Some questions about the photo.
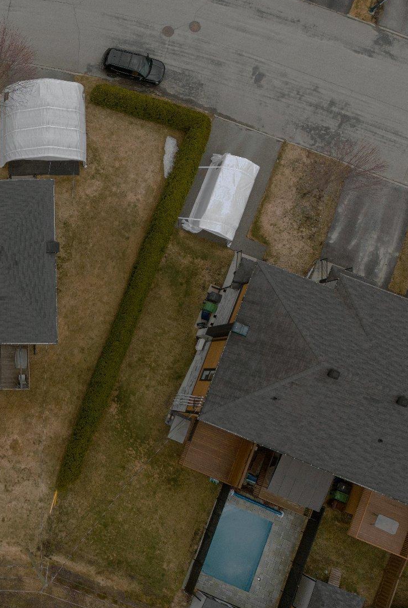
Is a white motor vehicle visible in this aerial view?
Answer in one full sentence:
No, the scene contains no white motor vehicle.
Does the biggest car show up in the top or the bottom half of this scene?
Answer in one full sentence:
The biggest car is in the top half of the image.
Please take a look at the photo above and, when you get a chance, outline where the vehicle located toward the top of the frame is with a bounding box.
[98,45,166,88]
